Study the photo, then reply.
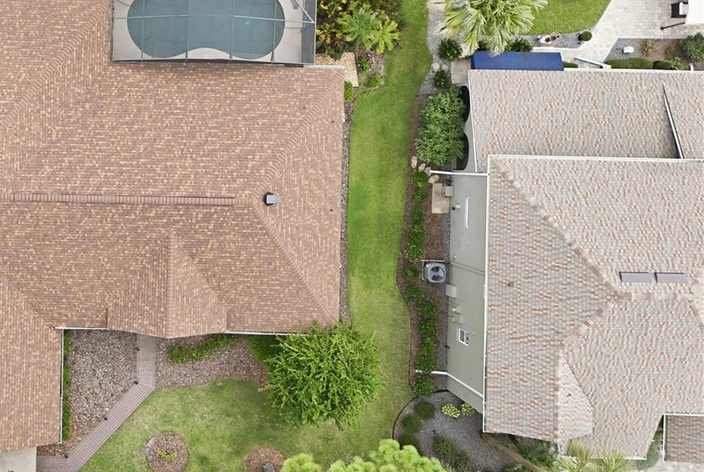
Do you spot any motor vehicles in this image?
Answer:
No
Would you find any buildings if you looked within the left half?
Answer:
Yes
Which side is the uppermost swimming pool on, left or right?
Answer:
left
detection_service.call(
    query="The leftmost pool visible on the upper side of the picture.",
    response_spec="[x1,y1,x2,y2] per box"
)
[115,0,299,62]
